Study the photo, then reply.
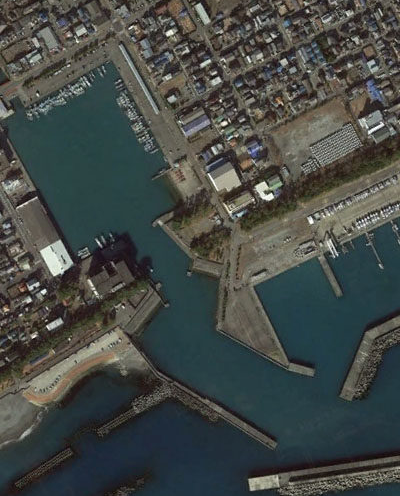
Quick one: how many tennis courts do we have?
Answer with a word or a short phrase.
none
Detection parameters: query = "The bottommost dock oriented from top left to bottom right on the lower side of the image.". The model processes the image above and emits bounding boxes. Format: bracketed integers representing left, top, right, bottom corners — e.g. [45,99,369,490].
[129,334,276,450]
